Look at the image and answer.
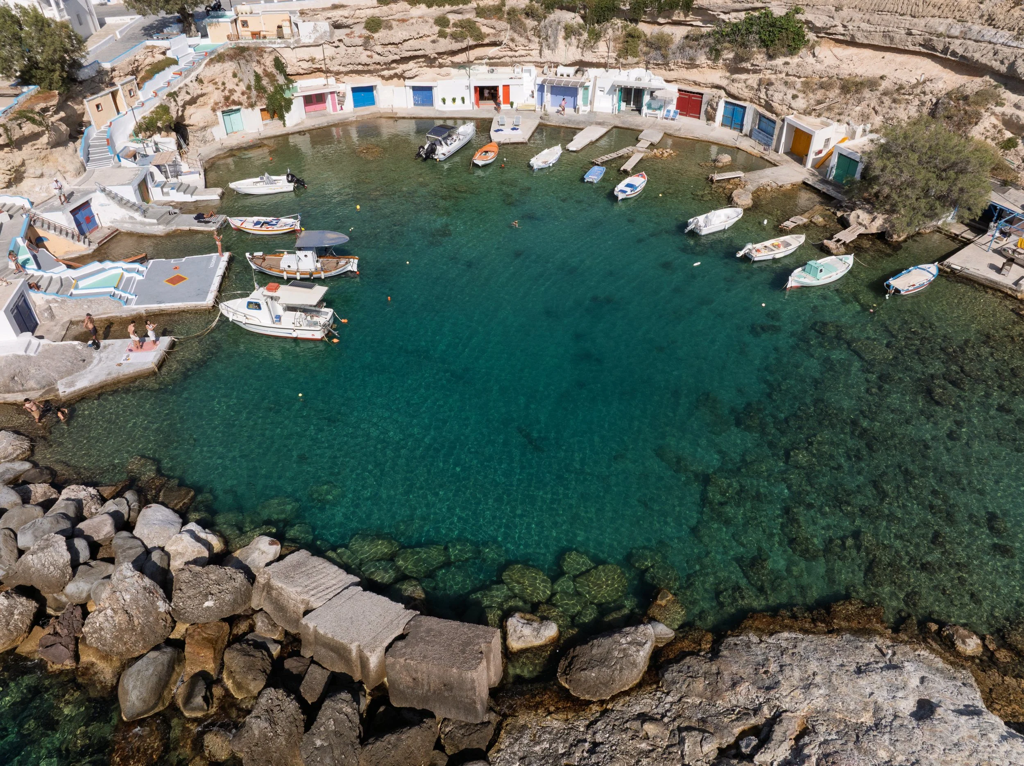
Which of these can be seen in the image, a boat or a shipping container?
boat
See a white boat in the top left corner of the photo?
Yes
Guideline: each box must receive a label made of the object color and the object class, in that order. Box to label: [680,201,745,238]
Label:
white boat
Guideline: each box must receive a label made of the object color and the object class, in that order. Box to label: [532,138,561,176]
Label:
white boat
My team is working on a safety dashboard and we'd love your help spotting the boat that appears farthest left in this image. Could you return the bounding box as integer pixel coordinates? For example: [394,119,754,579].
[72,251,146,265]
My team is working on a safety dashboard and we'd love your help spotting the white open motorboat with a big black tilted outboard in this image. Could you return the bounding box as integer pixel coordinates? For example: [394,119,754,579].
[228,172,313,197]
